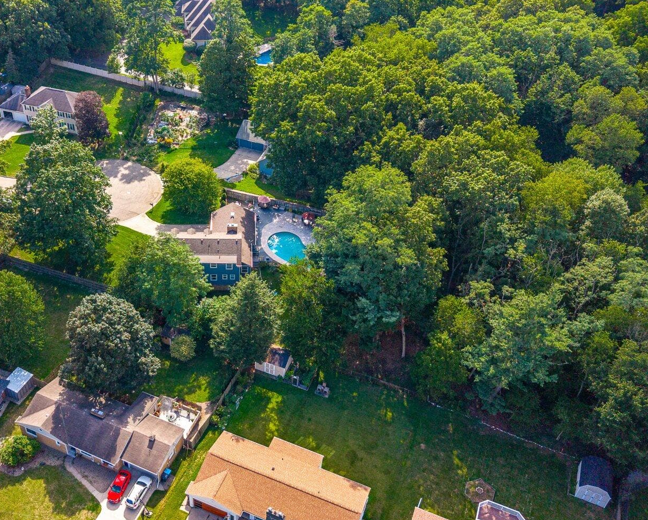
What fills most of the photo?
trees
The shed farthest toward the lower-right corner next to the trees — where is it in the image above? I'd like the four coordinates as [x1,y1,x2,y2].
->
[577,456,613,513]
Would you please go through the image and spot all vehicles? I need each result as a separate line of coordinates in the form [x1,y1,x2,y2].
[106,467,138,506]
[124,473,157,512]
